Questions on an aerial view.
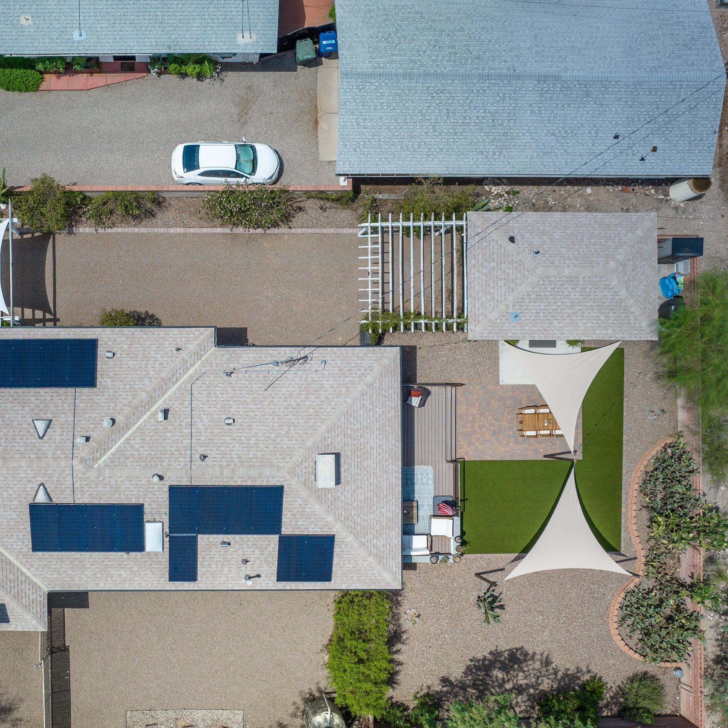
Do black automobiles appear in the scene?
No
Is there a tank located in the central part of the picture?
No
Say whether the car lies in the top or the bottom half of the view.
top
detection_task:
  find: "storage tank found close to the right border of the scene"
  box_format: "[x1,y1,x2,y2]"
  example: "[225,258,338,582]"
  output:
[665,177,712,207]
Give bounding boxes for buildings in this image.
[0,324,404,630]
[455,211,658,341]
[0,0,279,63]
[334,0,726,192]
